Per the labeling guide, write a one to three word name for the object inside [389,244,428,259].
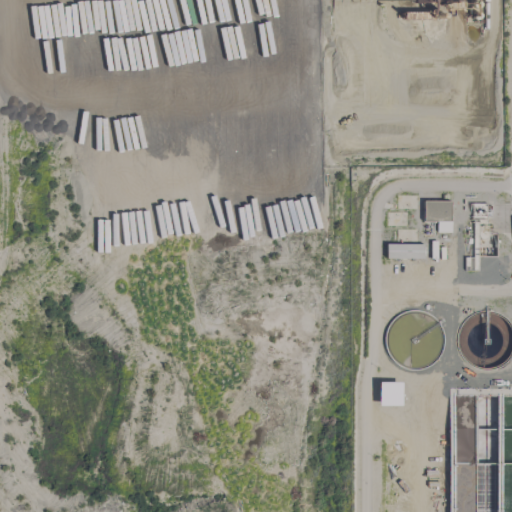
building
